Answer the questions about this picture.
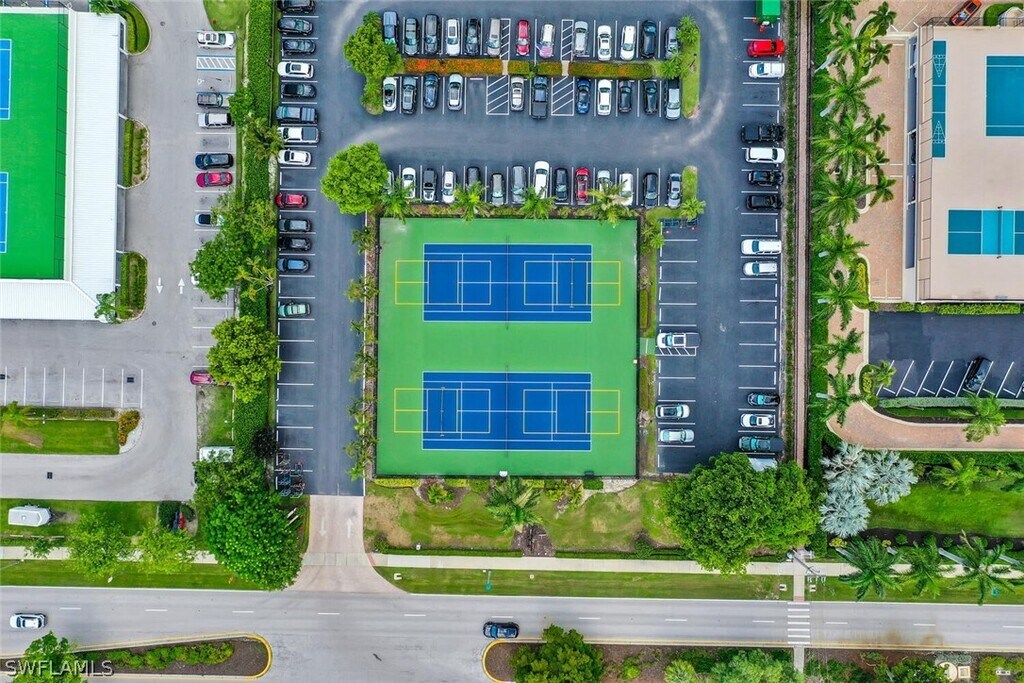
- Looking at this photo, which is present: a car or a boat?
car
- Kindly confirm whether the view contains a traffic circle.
No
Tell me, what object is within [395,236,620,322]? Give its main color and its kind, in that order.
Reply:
blue tennis court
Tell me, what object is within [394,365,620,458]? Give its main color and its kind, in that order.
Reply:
blue tennis court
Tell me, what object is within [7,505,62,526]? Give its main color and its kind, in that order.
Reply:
white trailer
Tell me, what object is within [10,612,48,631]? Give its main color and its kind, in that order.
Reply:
white car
